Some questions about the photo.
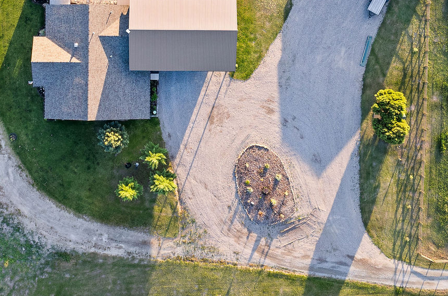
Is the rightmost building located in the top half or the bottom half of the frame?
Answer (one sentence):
You can find the rightmost building in the top half.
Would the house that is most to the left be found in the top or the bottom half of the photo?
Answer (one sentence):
The house that is most to the left is in the top half of the image.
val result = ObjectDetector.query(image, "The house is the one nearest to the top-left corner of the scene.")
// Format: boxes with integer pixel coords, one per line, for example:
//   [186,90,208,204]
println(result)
[29,3,150,121]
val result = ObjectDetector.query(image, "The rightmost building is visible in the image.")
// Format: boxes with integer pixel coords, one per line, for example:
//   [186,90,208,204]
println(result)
[127,0,236,71]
